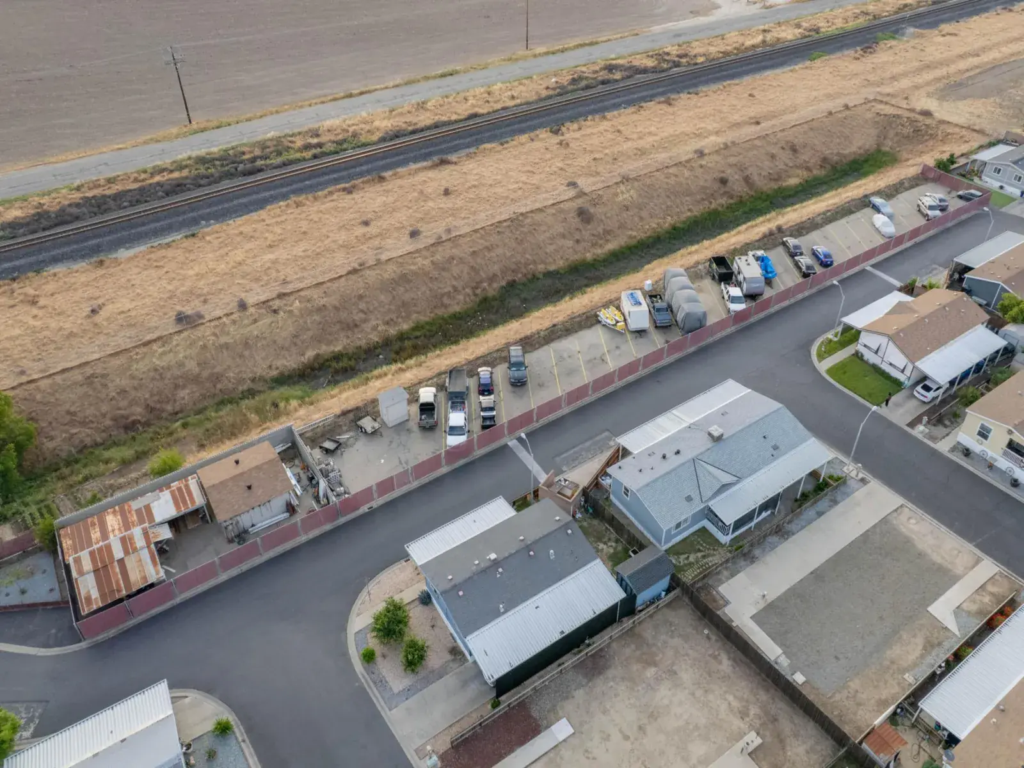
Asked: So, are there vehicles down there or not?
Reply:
Yes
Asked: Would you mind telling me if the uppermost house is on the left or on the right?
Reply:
right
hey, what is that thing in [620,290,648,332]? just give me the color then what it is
white trailer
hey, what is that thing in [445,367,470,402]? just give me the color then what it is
gray trailer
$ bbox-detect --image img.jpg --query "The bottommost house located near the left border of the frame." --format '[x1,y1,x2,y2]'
[0,674,193,768]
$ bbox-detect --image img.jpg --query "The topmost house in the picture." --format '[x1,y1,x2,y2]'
[967,143,1024,192]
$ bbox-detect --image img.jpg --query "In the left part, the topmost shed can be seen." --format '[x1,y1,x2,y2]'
[376,388,410,424]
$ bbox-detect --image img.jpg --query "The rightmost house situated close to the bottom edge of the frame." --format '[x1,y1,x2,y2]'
[908,601,1024,768]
